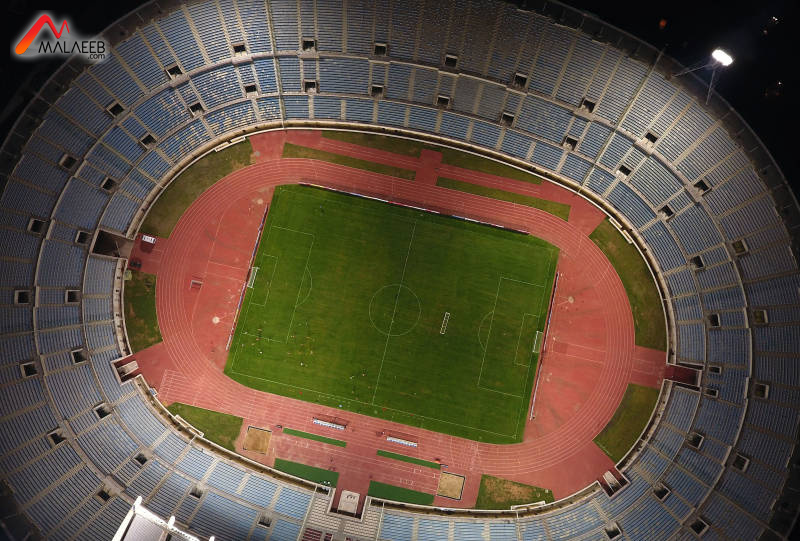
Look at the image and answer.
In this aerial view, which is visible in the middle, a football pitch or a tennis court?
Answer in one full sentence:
The feature located in the middle is a football pitch.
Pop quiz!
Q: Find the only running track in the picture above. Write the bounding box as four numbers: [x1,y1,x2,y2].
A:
[157,143,634,482]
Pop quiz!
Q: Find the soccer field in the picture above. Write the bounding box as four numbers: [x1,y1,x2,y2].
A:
[224,185,559,442]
